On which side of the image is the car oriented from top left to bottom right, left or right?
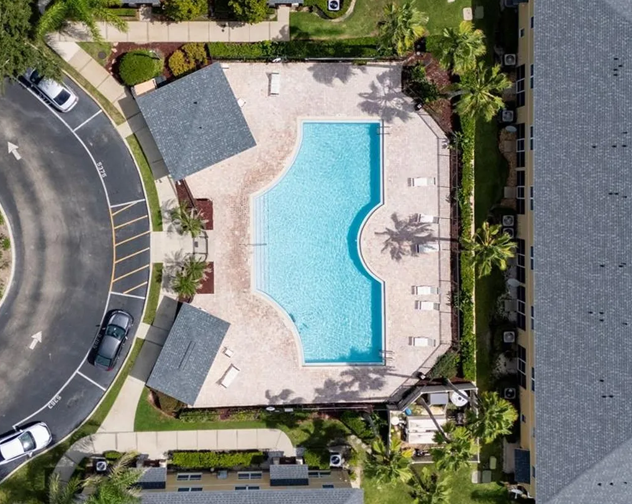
left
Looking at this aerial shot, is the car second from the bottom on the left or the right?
left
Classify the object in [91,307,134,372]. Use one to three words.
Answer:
car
